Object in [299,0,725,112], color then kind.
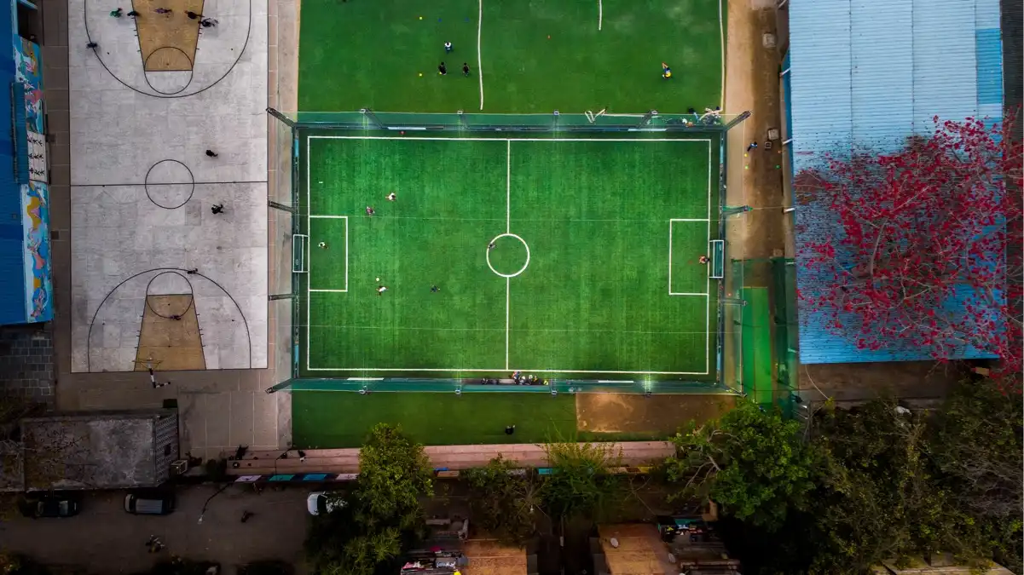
green sports field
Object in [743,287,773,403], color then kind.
green sports field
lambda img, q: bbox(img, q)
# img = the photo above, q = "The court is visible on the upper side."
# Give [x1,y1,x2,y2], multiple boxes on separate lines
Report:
[67,0,269,373]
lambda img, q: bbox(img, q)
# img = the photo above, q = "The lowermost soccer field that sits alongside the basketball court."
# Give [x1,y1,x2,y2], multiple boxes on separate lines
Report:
[298,129,724,380]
